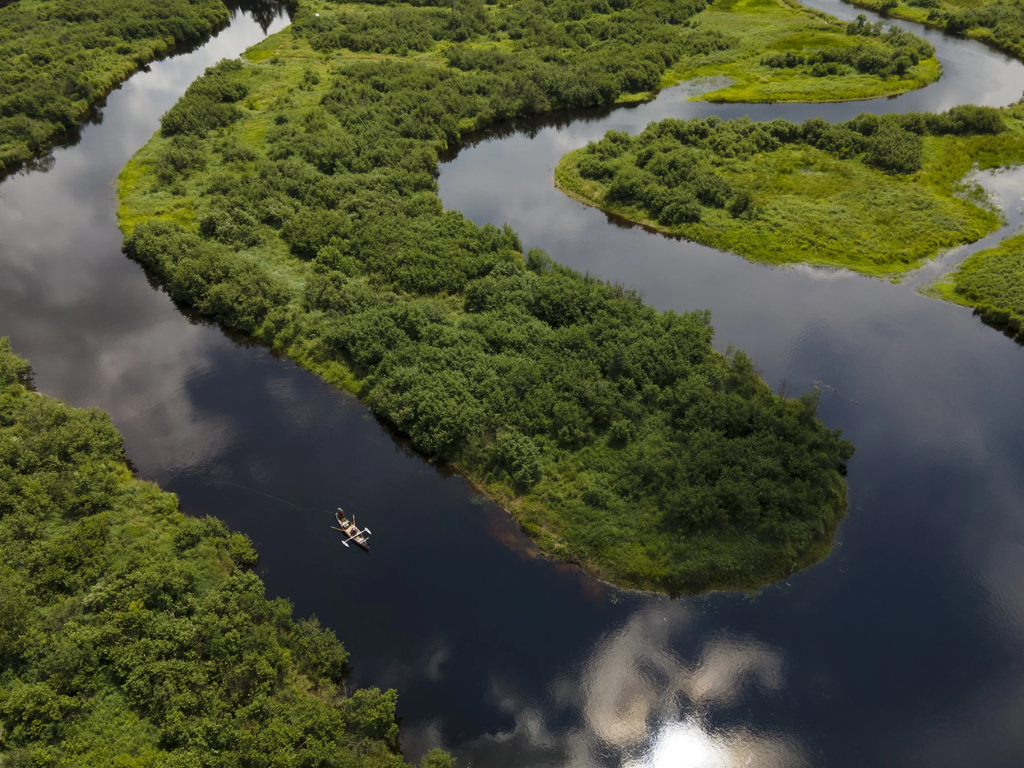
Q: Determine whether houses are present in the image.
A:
No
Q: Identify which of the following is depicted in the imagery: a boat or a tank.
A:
boat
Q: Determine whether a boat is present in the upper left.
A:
No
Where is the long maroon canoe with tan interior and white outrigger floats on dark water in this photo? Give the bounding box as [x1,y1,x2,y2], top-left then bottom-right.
[331,512,371,550]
